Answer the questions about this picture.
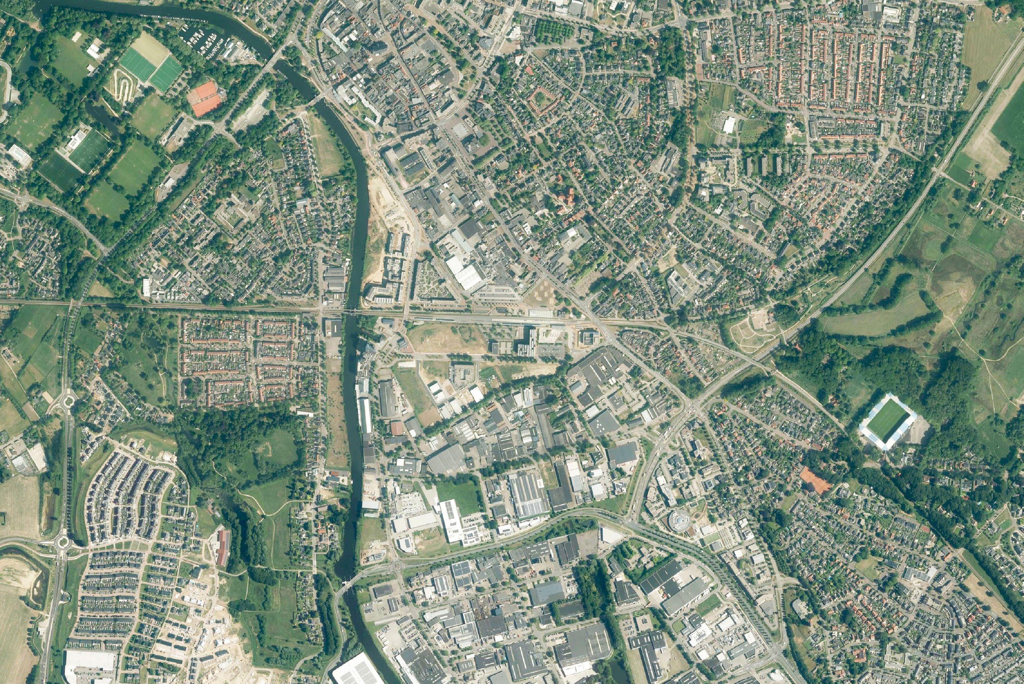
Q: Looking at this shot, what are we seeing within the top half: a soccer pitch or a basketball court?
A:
soccer pitch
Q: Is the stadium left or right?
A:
right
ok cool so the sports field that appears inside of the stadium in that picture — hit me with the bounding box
[867,399,910,443]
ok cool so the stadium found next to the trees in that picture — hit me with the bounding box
[860,392,917,450]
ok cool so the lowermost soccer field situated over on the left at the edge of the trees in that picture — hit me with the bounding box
[89,182,128,218]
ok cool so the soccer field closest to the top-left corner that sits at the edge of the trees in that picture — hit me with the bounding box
[56,42,94,81]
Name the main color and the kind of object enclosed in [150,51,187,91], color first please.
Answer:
green sports field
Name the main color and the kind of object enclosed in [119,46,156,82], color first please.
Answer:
green sports field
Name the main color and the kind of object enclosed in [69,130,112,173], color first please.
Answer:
green soccer field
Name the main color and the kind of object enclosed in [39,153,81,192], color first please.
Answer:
green soccer field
